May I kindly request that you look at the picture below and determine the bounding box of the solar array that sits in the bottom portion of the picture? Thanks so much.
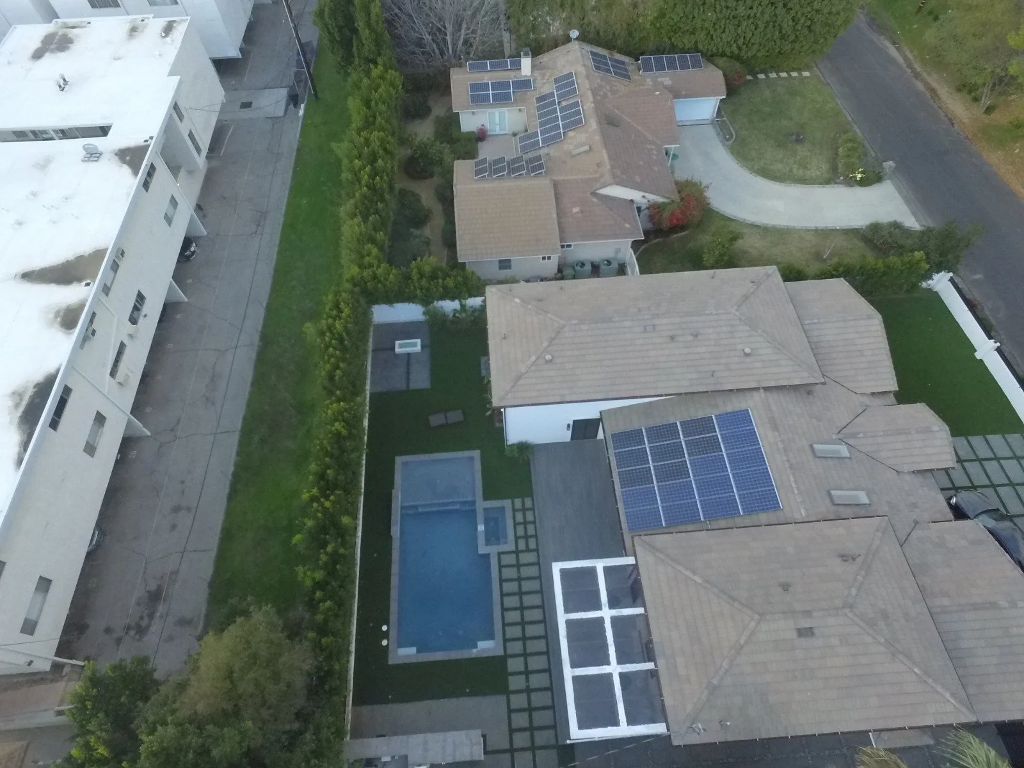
[611,410,783,531]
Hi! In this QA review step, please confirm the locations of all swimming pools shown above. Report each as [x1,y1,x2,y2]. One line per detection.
[387,449,515,664]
